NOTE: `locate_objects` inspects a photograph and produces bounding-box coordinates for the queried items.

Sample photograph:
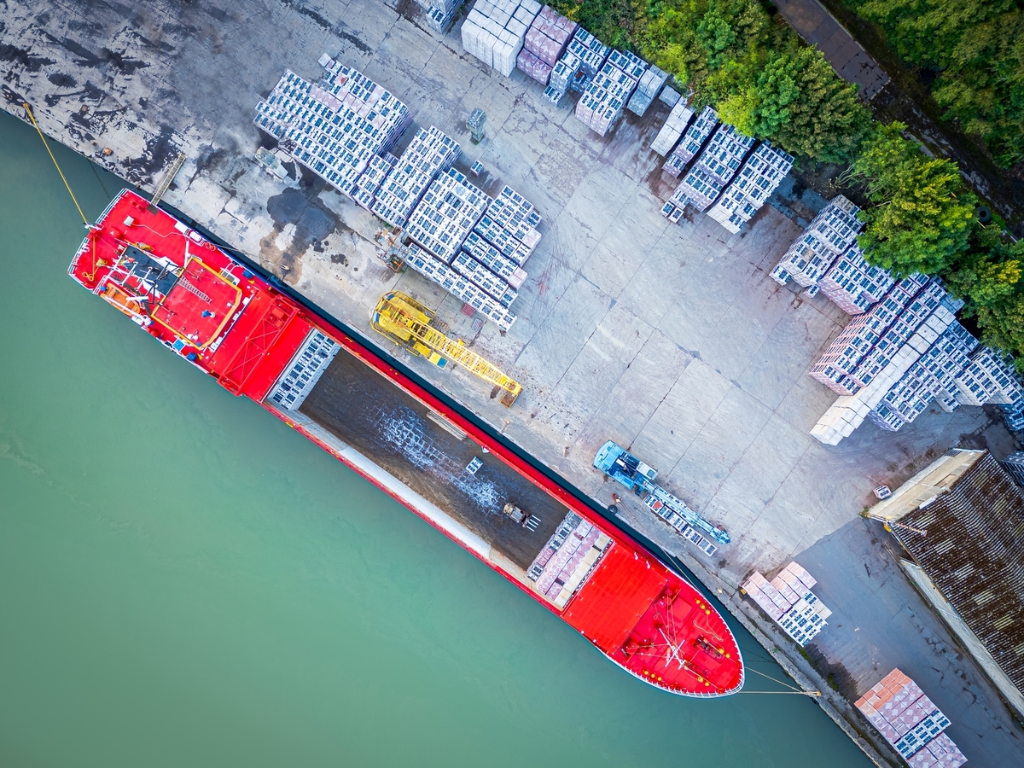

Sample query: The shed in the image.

[867,446,1024,712]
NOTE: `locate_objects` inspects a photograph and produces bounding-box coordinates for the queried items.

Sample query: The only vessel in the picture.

[65,189,747,701]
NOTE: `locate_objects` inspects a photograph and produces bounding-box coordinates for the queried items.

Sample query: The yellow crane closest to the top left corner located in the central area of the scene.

[370,291,524,408]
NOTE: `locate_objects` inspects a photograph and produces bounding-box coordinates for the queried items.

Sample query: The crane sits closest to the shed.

[592,439,731,544]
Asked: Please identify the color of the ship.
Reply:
red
